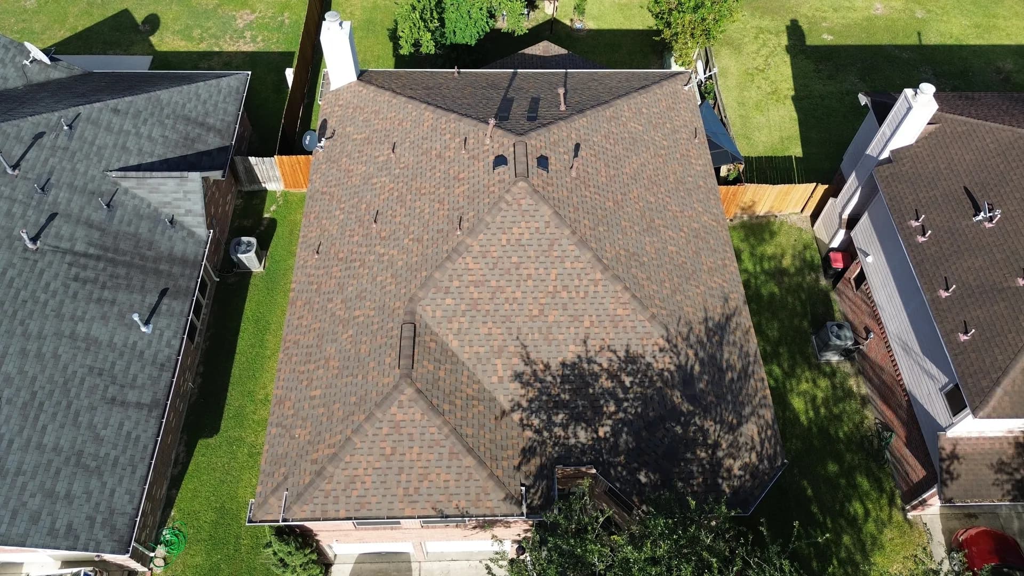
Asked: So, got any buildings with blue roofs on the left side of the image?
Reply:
No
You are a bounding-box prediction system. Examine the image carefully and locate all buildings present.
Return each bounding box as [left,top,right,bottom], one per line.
[245,14,790,564]
[0,34,254,570]
[813,82,1024,509]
